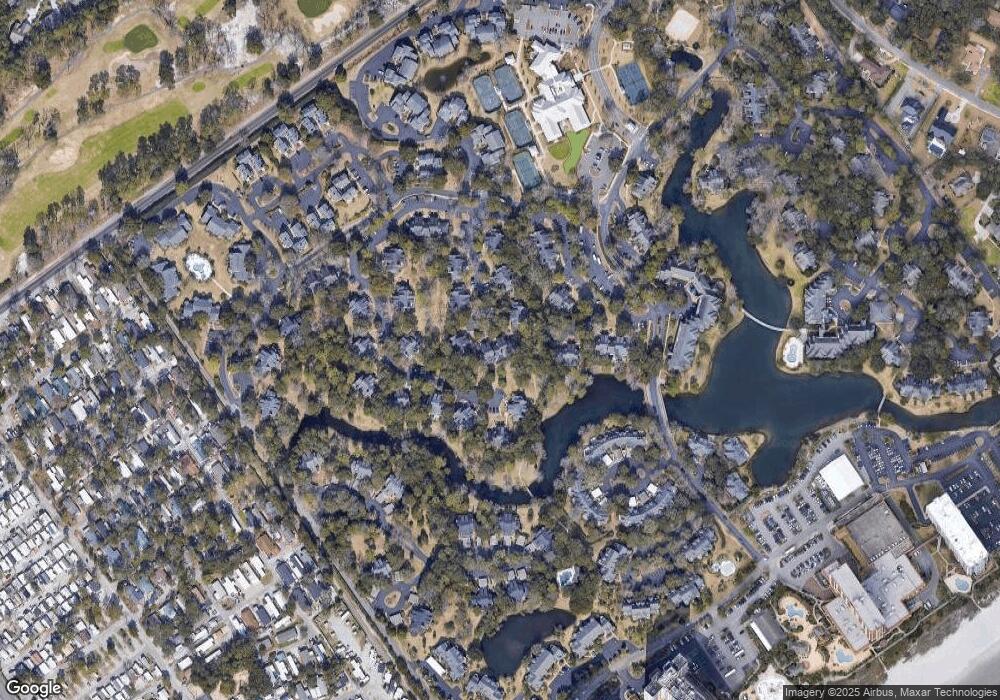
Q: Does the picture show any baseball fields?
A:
No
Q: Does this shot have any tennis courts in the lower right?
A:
No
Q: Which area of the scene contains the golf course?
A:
top left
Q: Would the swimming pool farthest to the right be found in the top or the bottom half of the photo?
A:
bottom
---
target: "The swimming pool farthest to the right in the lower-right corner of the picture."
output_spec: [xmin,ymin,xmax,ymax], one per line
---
[944,573,972,593]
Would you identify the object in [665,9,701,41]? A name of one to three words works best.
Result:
sports court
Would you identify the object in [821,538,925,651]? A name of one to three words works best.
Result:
building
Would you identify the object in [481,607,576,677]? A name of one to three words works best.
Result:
pond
